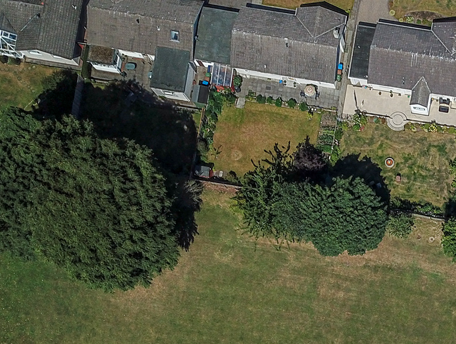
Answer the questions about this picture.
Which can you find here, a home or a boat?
home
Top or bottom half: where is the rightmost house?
top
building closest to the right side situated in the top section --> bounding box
[367,17,456,112]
